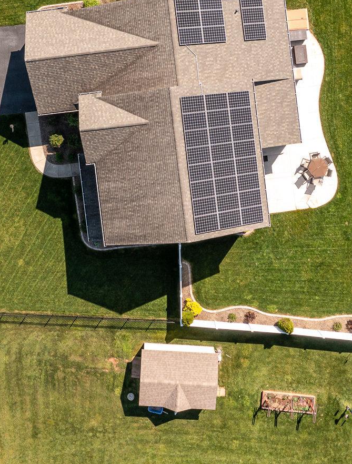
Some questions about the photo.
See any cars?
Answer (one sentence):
No, the photo shows no car.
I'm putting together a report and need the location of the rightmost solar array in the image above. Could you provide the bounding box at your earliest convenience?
[241,0,266,40]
